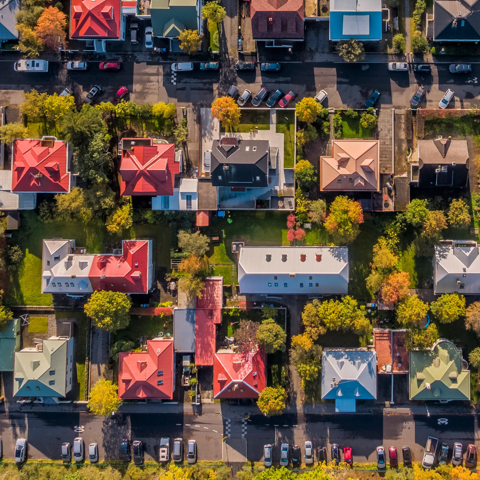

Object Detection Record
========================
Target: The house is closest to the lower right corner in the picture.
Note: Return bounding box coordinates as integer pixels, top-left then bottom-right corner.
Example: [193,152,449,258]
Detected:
[409,333,470,403]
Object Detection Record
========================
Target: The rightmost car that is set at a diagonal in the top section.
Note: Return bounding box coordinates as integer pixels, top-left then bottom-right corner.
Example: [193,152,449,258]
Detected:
[438,88,455,108]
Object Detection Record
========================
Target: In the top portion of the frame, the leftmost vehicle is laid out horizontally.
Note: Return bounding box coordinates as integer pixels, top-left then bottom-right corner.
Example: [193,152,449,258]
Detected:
[13,59,50,71]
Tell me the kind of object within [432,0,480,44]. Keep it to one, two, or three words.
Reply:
house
